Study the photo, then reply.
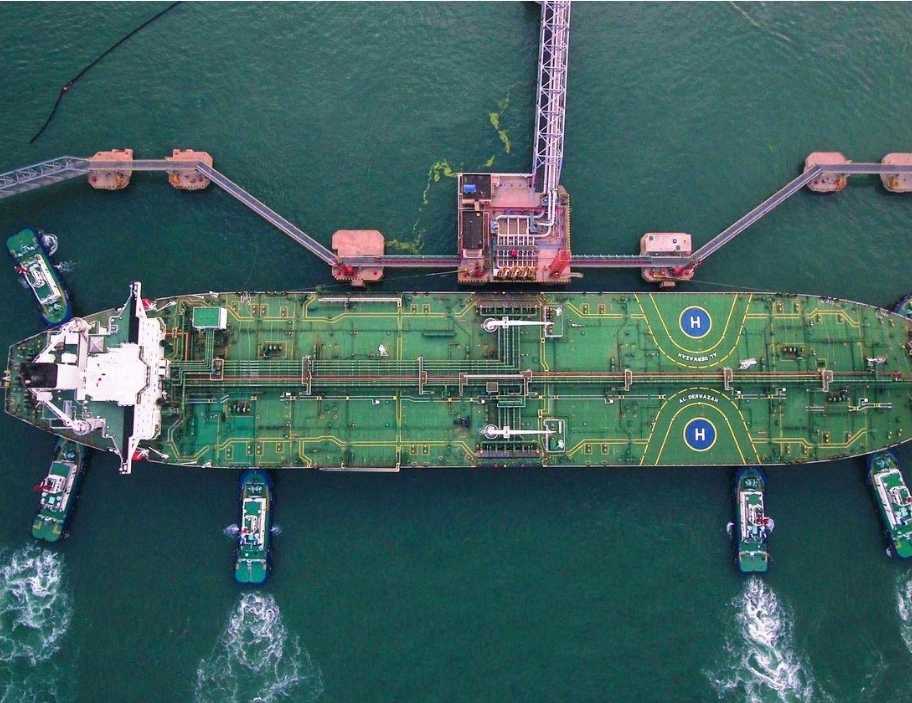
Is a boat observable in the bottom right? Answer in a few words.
Yes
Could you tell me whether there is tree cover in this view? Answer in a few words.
No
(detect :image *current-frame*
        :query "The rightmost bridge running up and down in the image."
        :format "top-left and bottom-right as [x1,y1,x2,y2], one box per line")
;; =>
[533,0,573,211]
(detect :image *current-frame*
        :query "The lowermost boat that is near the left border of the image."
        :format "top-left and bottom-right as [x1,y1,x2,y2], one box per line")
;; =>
[25,437,82,544]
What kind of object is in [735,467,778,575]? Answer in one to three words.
boat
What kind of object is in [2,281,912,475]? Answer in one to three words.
ship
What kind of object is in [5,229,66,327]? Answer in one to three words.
boat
